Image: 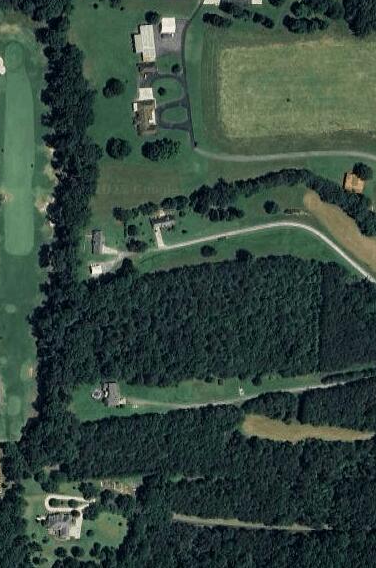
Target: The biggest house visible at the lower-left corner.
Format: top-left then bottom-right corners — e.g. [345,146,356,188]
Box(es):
[47,514,69,537]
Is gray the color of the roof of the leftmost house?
Yes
